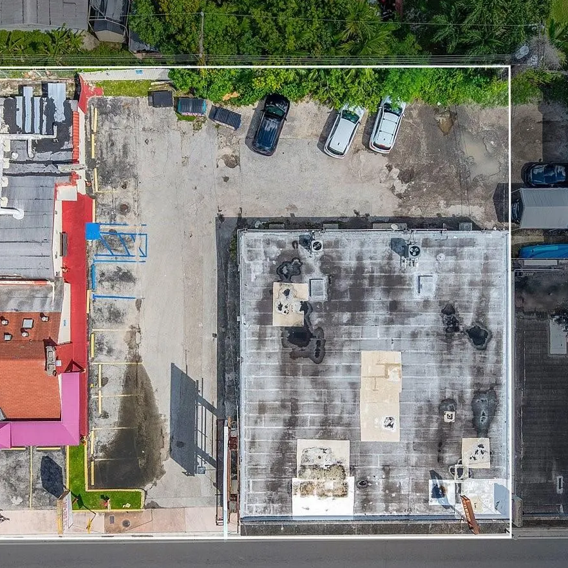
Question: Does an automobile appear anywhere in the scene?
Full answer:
Yes, an automobile can be made out from above.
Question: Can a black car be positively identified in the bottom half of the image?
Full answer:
No, in the bottom half of the image there is no black car.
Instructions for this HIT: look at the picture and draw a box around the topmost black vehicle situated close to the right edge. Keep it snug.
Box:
[521,159,568,188]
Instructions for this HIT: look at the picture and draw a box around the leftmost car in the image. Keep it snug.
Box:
[254,99,290,160]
